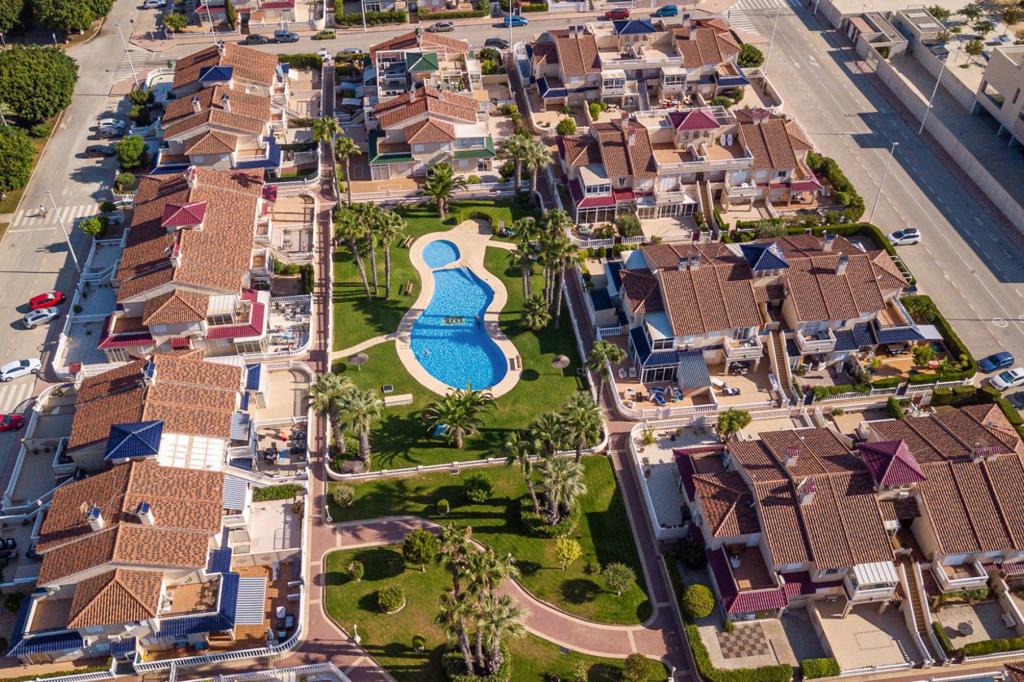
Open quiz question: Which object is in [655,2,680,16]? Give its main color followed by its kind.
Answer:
blue car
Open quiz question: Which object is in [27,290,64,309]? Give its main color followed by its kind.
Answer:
red car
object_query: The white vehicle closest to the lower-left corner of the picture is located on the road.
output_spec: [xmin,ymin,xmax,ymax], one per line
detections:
[0,360,39,382]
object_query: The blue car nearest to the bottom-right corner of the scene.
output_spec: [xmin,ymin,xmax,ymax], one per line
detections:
[980,352,1020,374]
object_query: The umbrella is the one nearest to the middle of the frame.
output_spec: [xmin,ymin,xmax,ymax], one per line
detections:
[550,353,575,375]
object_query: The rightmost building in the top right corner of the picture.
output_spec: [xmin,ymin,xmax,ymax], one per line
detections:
[974,46,1024,155]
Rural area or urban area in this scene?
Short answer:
urban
